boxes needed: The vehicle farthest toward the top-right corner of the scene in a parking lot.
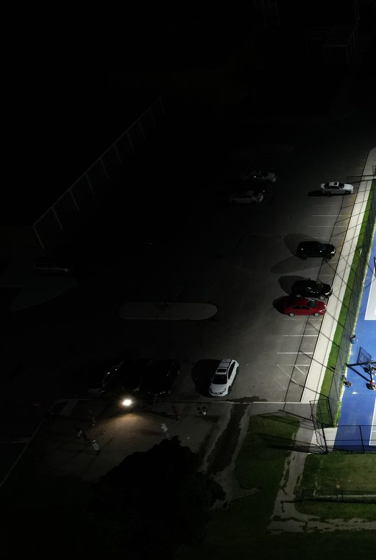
[320,181,354,195]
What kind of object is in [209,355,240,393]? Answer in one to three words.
car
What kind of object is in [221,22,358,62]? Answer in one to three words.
building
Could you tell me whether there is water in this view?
No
